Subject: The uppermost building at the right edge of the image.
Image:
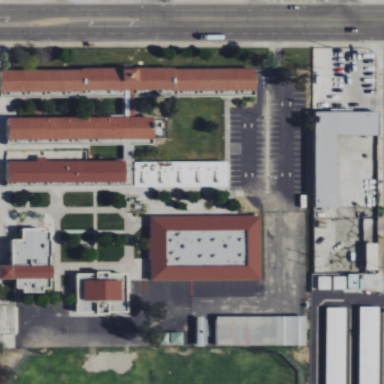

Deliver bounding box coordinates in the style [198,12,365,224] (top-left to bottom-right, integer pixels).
[314,111,378,207]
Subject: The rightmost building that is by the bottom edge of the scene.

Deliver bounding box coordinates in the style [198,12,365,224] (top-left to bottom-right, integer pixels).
[358,306,380,384]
